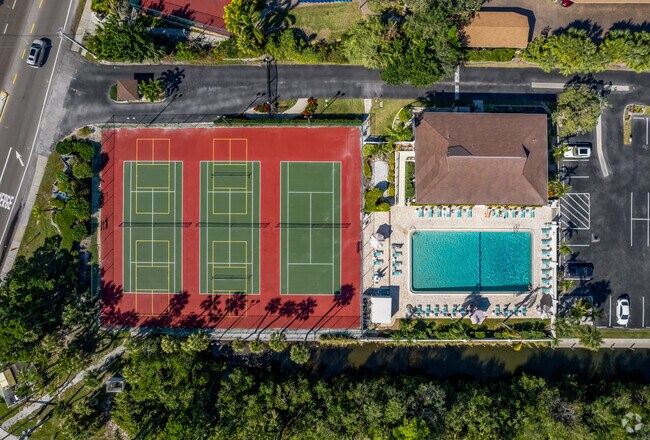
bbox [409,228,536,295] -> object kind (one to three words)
swimming pool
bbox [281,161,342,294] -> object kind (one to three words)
tennis court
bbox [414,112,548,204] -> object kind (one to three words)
building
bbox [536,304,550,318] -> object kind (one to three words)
umbrella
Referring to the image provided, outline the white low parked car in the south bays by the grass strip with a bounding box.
[614,298,630,325]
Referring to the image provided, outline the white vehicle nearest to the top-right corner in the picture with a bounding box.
[561,145,590,159]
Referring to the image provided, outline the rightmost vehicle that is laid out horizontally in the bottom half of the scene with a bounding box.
[564,263,593,277]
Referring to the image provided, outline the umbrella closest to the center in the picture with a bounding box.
[369,233,383,248]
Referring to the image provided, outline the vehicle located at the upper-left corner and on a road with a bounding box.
[27,39,49,68]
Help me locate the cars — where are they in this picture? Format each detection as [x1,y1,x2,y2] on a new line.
[559,0,572,10]
[614,298,630,325]
[561,145,590,159]
[27,39,49,68]
[564,263,593,277]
